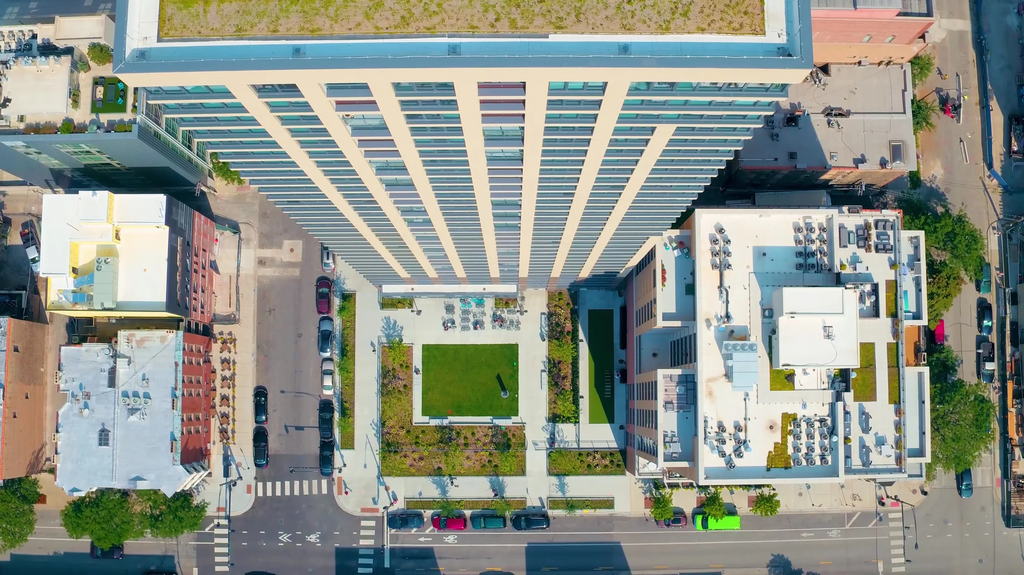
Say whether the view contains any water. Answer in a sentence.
No, there's no water in this view.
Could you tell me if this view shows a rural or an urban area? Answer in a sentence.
The land in this view is best described as urban.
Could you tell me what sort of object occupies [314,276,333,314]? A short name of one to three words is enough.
car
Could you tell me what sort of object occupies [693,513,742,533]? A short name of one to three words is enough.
vehicle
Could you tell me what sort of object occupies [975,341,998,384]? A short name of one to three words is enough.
truck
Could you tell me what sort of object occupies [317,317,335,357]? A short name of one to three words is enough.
car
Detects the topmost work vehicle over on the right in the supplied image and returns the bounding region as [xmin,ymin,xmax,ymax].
[937,97,959,117]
